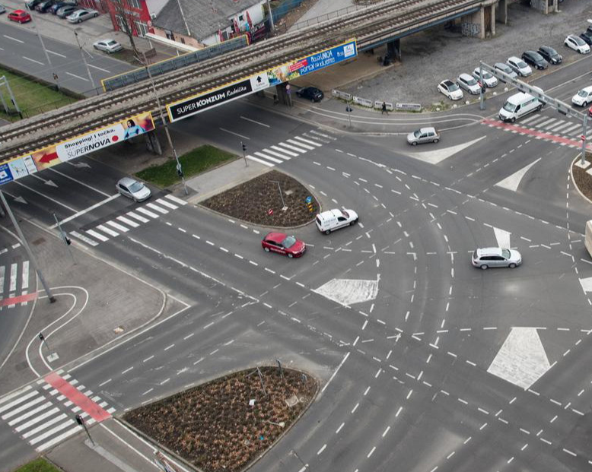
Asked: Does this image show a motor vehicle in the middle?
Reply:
Yes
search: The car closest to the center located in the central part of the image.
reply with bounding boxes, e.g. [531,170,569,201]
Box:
[264,234,306,258]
